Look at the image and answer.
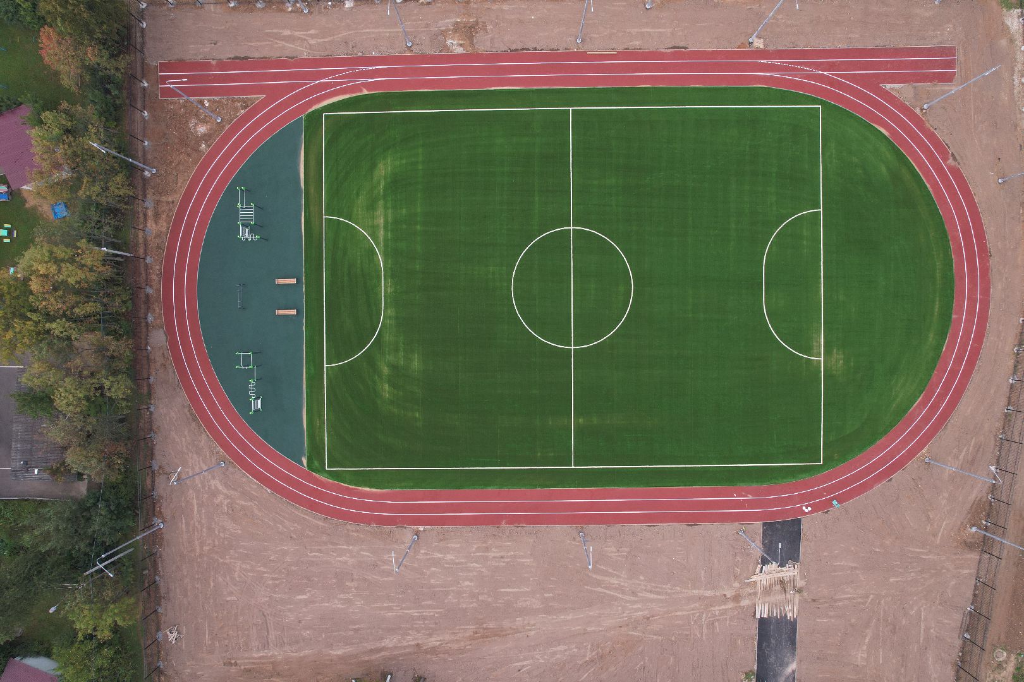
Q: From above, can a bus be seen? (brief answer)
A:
No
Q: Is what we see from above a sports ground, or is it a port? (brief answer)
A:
sports ground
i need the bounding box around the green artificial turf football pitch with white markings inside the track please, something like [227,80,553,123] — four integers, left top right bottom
[303,86,953,490]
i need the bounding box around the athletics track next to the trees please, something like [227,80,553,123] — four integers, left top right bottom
[158,44,991,528]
